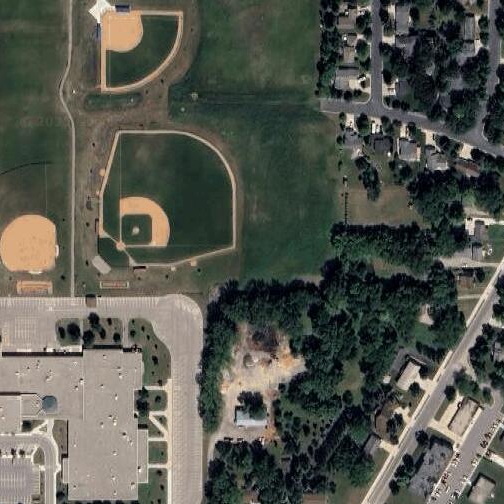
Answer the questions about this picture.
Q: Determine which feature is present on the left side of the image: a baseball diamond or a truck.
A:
baseball diamond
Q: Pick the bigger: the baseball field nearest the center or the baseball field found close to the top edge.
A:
the baseball field nearest the center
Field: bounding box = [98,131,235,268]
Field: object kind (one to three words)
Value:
baseball field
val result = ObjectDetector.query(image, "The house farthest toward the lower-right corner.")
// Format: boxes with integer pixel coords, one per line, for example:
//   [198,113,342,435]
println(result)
[469,477,495,504]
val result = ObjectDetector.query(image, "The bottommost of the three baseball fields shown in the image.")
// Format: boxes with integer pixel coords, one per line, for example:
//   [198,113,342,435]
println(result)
[0,215,56,272]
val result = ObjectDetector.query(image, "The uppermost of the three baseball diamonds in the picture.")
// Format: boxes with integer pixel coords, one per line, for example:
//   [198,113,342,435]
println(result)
[101,10,183,92]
